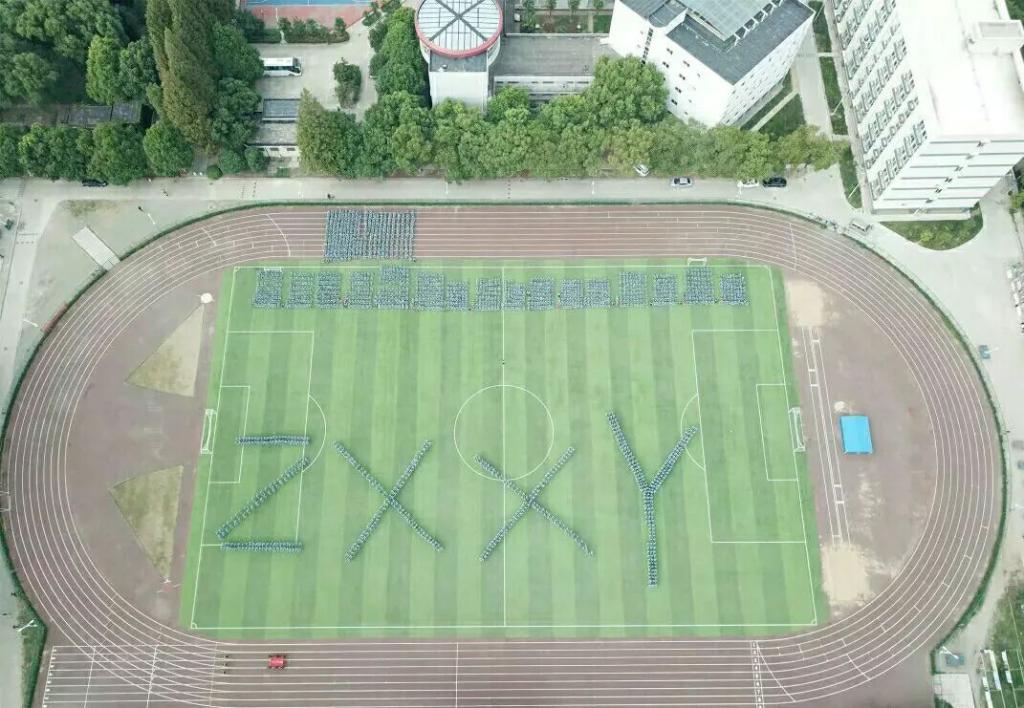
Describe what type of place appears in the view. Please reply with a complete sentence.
It's a sports ground.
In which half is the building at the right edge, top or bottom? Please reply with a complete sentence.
Seen from above, the building at the right edge lies in the top half of the view.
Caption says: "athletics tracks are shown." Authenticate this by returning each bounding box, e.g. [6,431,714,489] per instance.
[0,205,1002,708]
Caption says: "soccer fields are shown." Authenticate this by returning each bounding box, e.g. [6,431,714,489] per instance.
[179,259,826,640]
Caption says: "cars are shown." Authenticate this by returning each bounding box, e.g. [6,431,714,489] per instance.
[670,177,693,188]
[631,160,651,176]
[80,178,106,188]
[763,177,787,188]
[738,179,758,189]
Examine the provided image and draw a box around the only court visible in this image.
[247,0,372,28]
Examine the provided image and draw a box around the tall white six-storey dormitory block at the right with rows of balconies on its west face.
[833,0,1024,212]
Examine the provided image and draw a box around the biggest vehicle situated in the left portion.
[257,60,302,77]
